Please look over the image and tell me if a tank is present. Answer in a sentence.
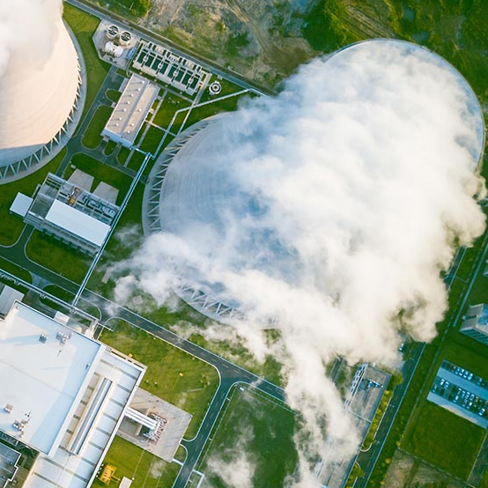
Yes, a tank can be made out from above.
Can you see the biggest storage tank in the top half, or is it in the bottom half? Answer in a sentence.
The top half of the photo is where the biggest storage tank is.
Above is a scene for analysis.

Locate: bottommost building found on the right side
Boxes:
[303,359,390,488]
